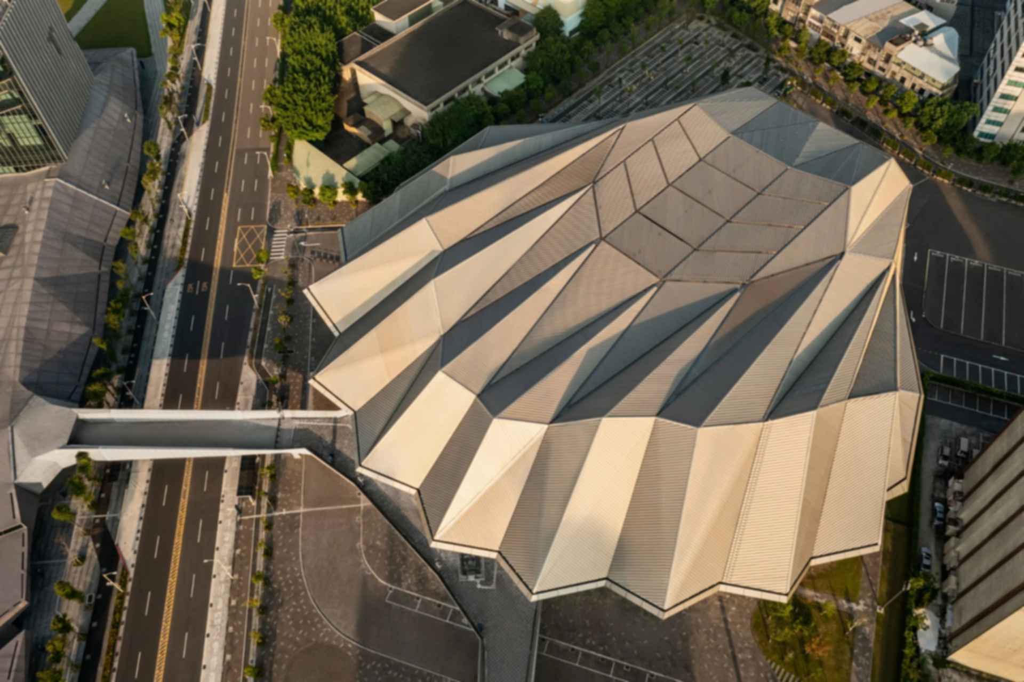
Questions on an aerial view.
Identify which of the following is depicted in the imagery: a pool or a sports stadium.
sports stadium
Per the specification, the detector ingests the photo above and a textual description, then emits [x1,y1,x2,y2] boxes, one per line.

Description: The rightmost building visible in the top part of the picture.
[967,19,1024,148]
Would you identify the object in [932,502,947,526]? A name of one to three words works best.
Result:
car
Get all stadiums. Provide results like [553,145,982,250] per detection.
[299,85,925,622]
